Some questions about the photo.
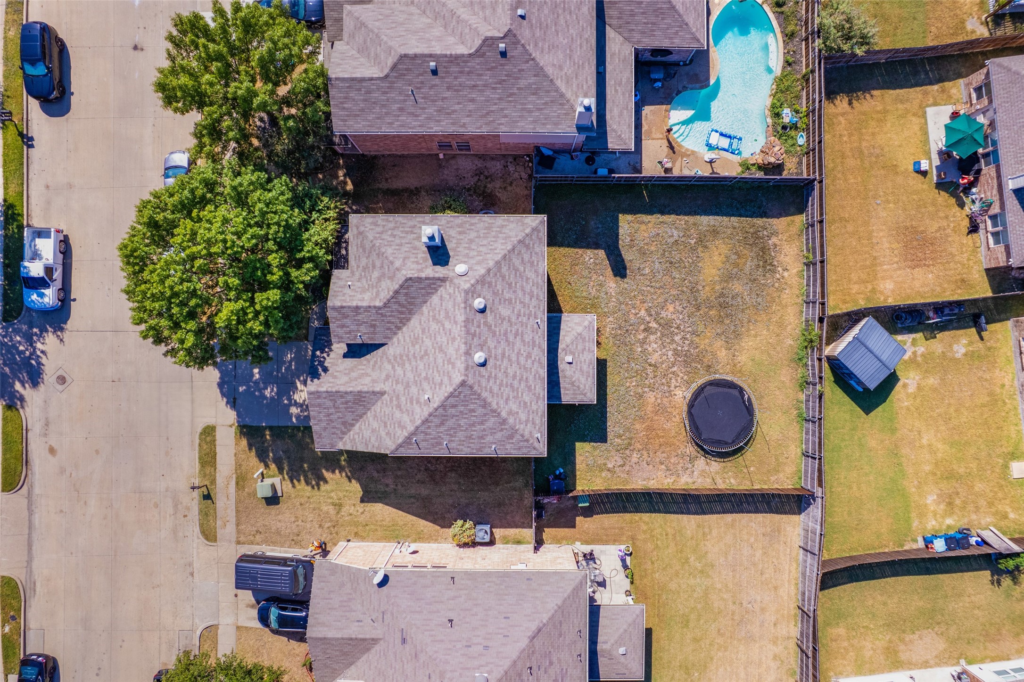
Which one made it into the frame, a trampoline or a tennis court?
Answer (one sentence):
Looking from above, you can make out a trampoline.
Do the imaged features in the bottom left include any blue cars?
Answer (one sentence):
Yes, a blue car appears in the bottom left.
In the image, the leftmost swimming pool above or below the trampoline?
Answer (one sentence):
You can see the leftmost swimming pool above the trampoline in the frame.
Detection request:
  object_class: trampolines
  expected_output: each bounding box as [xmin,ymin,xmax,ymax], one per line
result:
[683,377,765,451]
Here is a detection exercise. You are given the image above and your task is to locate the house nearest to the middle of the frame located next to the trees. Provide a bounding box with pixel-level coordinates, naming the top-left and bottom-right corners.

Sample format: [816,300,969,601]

[306,213,598,458]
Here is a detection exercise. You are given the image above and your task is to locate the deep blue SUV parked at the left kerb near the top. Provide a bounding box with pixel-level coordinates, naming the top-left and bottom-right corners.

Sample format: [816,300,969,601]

[18,22,65,100]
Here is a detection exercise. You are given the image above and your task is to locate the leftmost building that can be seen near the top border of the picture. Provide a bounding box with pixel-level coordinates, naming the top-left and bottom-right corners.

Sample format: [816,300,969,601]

[319,0,708,161]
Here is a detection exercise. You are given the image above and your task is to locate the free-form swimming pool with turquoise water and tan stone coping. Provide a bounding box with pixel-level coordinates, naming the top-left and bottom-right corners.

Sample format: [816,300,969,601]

[663,0,783,162]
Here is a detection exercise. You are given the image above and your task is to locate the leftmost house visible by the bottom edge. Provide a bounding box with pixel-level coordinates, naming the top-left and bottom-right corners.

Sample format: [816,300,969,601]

[306,536,647,682]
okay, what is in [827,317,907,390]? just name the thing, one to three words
shed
